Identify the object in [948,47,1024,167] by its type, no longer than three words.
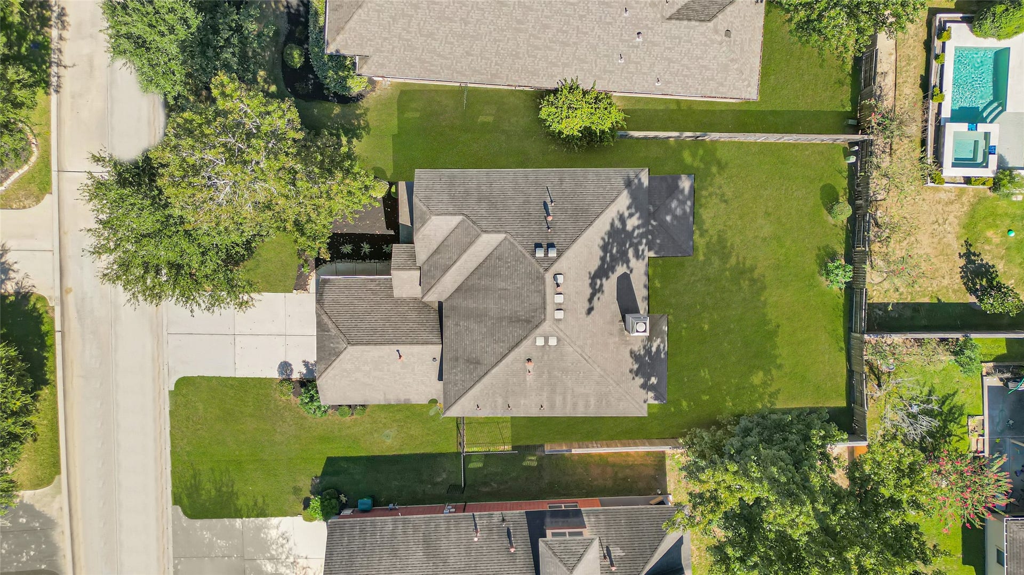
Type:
swimming pool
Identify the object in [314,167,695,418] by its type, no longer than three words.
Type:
house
